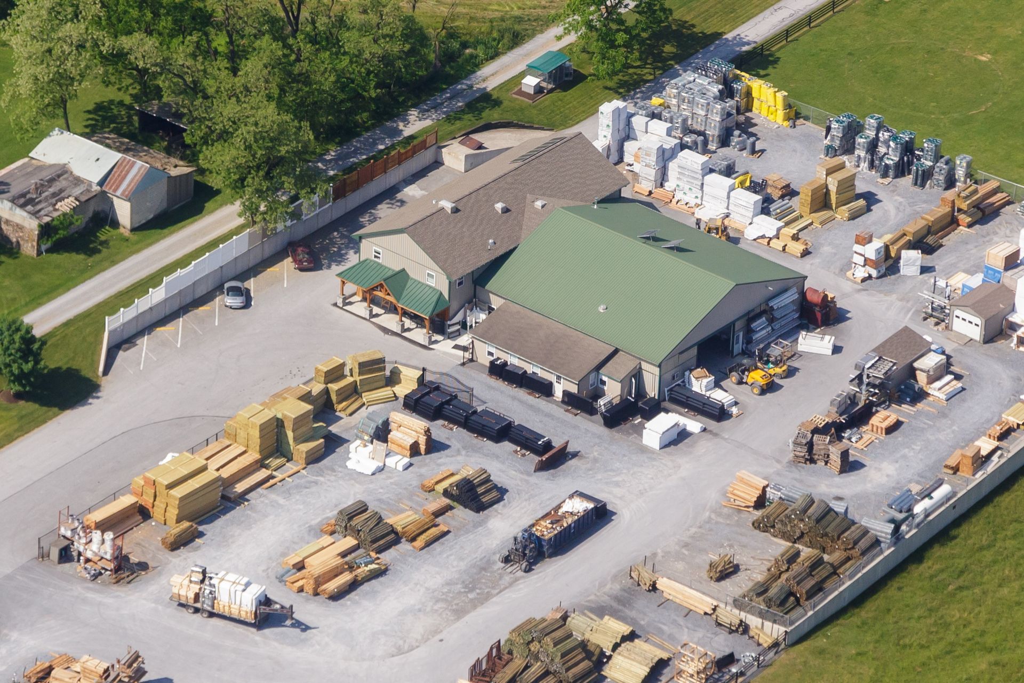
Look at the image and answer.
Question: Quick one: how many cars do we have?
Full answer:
There are 2 cars in the image.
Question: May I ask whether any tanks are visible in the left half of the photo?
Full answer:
No, no tank appears in the left half of the photo.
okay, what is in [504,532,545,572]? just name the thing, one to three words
work vehicle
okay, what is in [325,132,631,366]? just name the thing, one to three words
barn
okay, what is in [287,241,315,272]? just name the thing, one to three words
car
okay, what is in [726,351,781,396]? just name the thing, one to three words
work vehicle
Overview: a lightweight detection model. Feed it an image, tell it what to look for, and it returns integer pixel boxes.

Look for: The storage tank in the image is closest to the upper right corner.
[814,279,844,327]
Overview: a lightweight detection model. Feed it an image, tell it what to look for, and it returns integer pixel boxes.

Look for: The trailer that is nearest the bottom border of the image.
[170,594,297,629]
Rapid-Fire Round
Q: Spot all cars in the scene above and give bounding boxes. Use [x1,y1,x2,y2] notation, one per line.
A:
[287,241,315,272]
[223,281,246,309]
